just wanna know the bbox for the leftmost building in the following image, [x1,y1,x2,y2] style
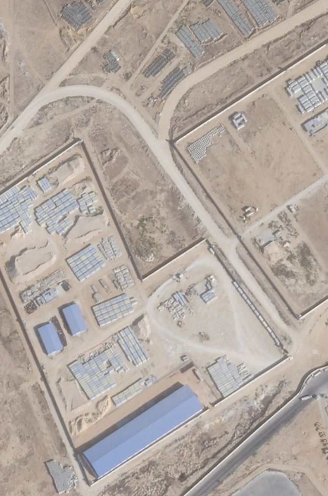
[38,323,63,356]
